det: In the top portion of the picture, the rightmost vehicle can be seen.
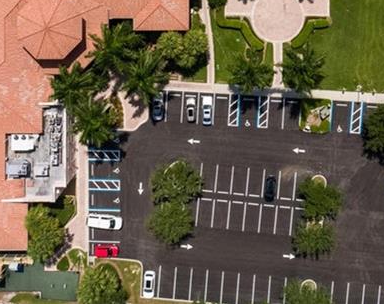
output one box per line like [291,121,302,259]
[200,96,213,125]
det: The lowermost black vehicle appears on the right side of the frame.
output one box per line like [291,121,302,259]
[264,173,277,202]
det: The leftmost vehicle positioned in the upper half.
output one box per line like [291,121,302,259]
[151,94,164,123]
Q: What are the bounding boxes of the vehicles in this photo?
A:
[143,269,156,298]
[185,96,197,123]
[264,173,277,202]
[87,214,122,230]
[200,96,213,125]
[94,244,120,259]
[151,94,164,123]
